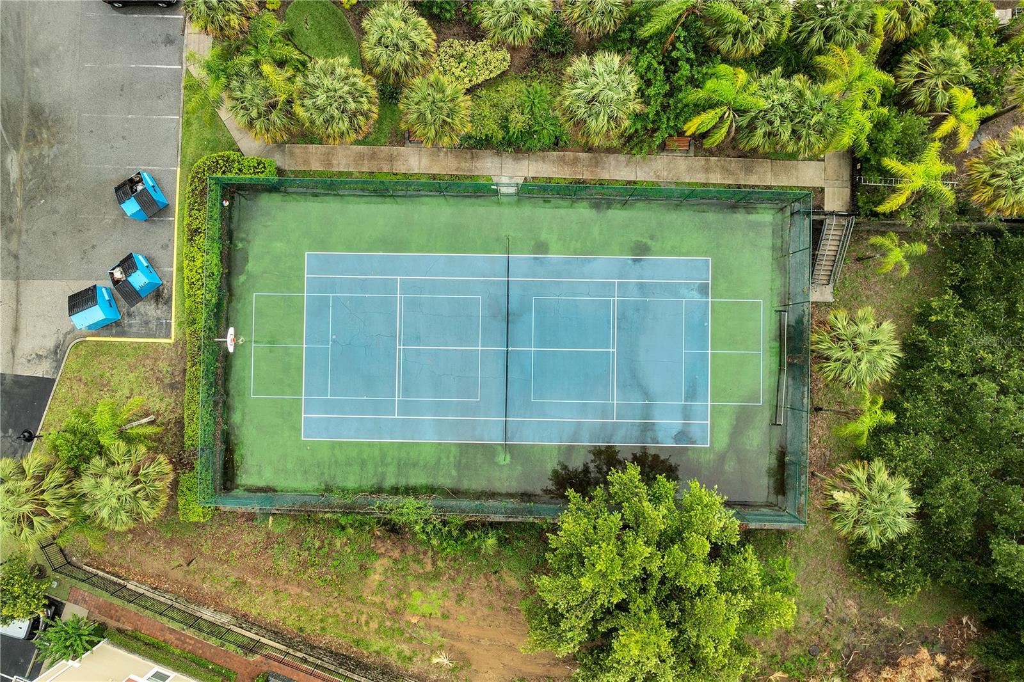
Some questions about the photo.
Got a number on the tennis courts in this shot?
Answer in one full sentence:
Altogether the scene contains 1 tennis court.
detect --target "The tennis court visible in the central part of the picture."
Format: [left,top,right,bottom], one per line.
[220,186,802,530]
